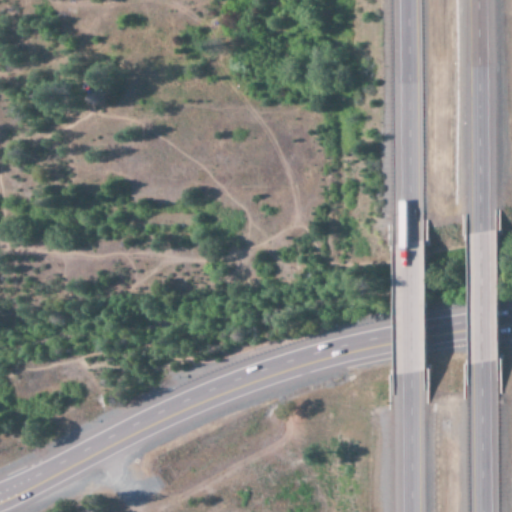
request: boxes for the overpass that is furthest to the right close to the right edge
[463,208,505,400]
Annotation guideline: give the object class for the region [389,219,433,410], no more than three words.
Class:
overpass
